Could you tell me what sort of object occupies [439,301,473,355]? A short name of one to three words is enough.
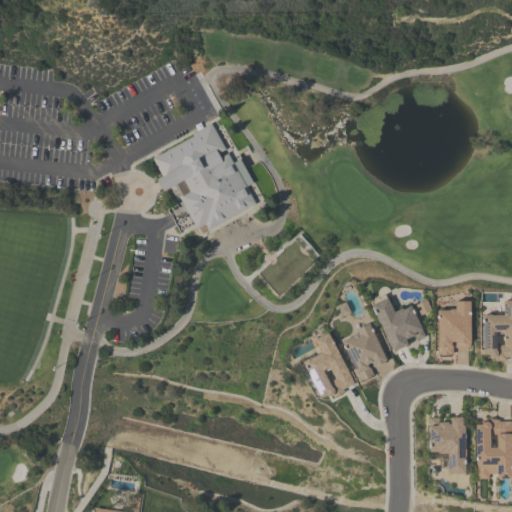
house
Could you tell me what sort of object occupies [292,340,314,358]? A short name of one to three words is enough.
swimming pool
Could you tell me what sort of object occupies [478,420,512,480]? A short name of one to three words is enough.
house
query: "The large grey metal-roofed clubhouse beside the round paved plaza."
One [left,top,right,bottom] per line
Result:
[153,122,257,233]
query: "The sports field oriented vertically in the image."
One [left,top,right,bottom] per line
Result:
[0,210,71,384]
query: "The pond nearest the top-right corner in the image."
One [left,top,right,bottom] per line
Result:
[348,83,479,192]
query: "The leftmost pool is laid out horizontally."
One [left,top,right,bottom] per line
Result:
[112,480,135,492]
